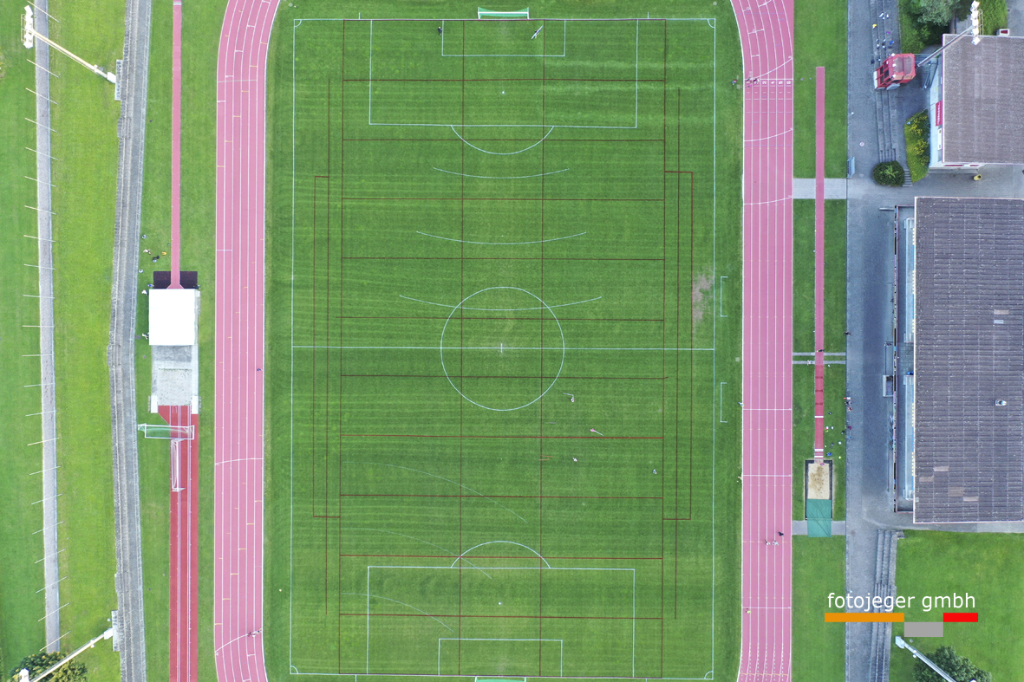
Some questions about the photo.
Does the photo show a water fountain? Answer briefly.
No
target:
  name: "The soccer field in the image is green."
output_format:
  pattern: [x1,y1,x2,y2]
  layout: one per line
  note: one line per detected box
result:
[264,0,743,682]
